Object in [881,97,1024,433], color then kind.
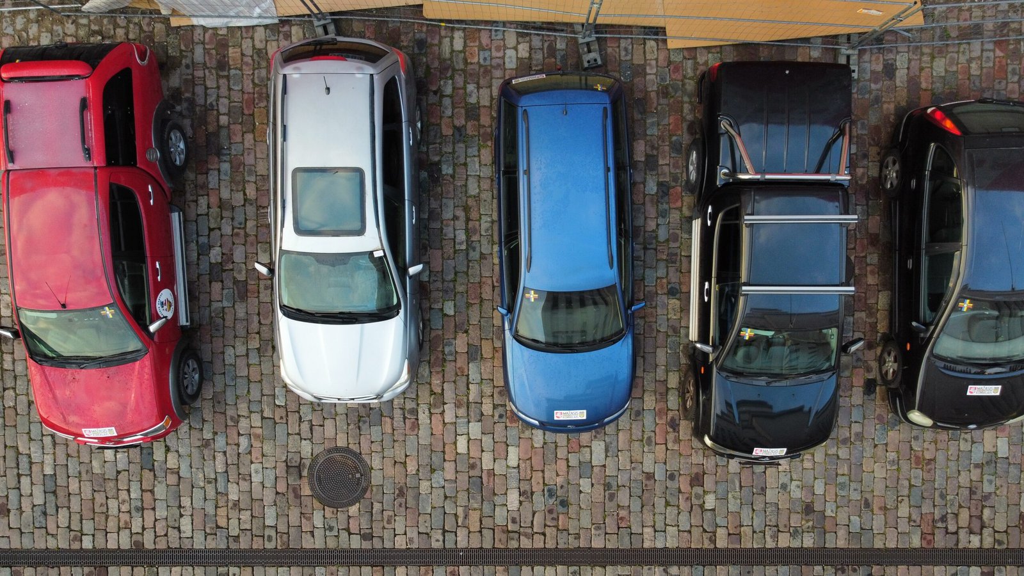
black car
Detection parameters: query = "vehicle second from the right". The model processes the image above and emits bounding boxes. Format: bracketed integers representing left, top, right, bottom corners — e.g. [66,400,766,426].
[687,61,868,465]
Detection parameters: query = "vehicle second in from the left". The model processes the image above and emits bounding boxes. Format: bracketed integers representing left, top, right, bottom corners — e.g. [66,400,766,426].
[252,34,428,408]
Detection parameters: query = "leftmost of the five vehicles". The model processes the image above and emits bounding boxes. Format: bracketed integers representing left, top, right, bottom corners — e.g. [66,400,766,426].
[0,41,205,454]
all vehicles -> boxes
[492,64,647,434]
[687,61,868,465]
[0,41,205,454]
[881,97,1024,433]
[252,34,428,408]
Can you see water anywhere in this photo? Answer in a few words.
No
